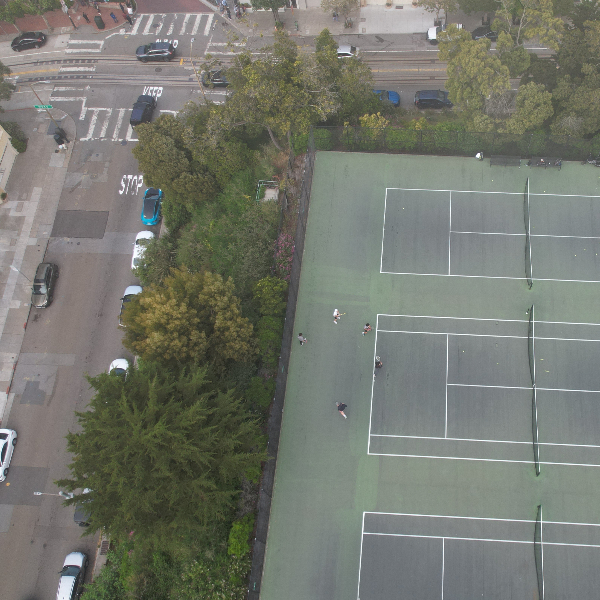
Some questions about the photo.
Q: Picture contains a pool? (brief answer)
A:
No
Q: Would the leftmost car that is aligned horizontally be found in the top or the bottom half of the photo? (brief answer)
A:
top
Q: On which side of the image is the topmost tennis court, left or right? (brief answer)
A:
right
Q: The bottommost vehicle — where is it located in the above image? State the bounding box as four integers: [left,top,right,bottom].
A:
[55,556,89,600]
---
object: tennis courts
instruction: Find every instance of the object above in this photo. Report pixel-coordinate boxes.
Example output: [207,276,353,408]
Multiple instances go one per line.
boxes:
[357,512,600,600]
[380,187,600,282]
[368,314,600,466]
